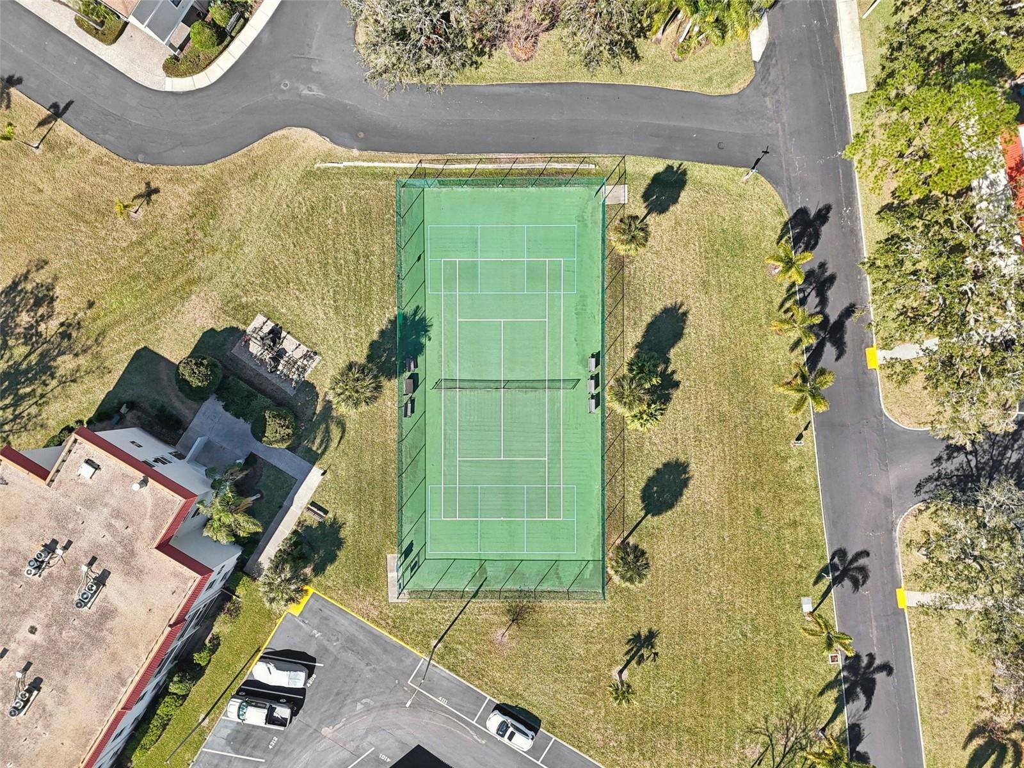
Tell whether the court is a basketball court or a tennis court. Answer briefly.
tennis court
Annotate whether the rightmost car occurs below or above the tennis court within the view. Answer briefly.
below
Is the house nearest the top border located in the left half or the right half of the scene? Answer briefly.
left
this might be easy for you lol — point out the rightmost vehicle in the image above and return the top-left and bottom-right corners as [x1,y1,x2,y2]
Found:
[486,712,536,756]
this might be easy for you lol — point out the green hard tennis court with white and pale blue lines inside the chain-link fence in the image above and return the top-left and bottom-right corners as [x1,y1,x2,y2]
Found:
[403,187,601,590]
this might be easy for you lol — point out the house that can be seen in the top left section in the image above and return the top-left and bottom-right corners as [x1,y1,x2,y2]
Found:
[100,0,198,56]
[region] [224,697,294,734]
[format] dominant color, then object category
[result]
white truck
